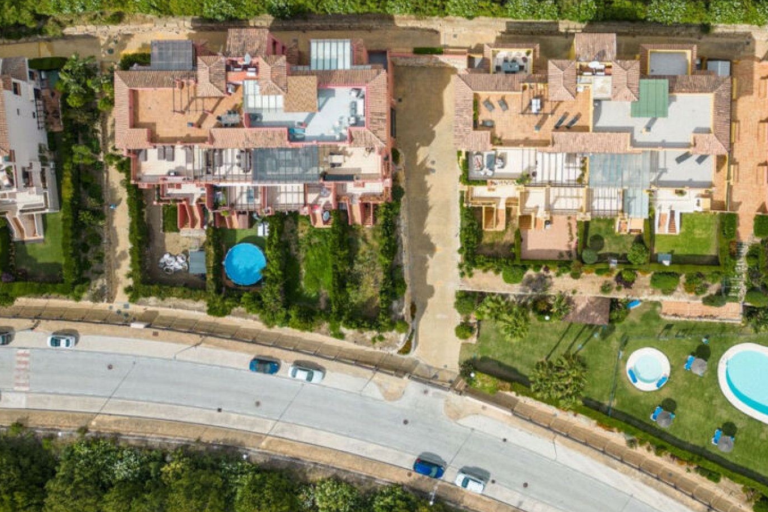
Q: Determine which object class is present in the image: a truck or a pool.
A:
pool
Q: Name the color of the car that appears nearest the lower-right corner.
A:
white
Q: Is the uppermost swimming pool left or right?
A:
left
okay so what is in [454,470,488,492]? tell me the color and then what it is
white car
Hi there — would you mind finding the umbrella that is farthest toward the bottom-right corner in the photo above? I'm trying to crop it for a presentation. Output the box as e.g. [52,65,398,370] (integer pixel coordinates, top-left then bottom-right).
[716,435,734,453]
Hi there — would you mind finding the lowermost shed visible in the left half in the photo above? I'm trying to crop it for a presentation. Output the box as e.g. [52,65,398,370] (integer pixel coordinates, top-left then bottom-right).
[189,252,209,274]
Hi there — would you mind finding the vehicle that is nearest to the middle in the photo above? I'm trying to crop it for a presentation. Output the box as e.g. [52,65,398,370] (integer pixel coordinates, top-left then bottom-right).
[287,365,325,383]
